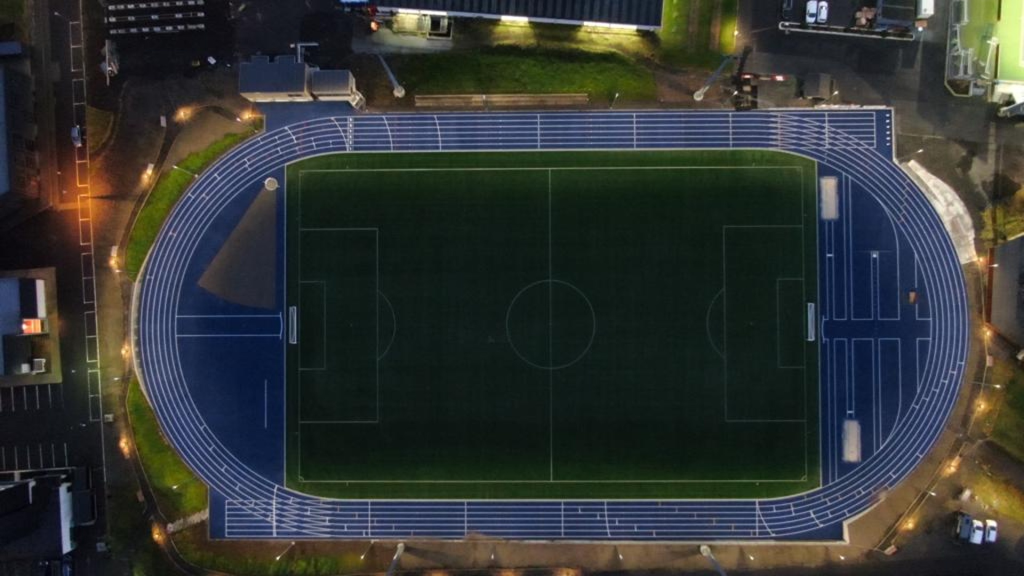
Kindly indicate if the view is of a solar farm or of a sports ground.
sports ground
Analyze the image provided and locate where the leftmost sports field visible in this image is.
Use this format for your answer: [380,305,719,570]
[284,149,823,500]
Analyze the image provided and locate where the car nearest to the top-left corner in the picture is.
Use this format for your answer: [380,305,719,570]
[70,125,83,146]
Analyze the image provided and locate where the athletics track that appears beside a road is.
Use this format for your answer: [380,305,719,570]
[138,110,971,539]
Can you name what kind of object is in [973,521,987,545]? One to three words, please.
vehicle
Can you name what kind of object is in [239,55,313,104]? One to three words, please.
building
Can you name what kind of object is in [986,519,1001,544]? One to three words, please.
vehicle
